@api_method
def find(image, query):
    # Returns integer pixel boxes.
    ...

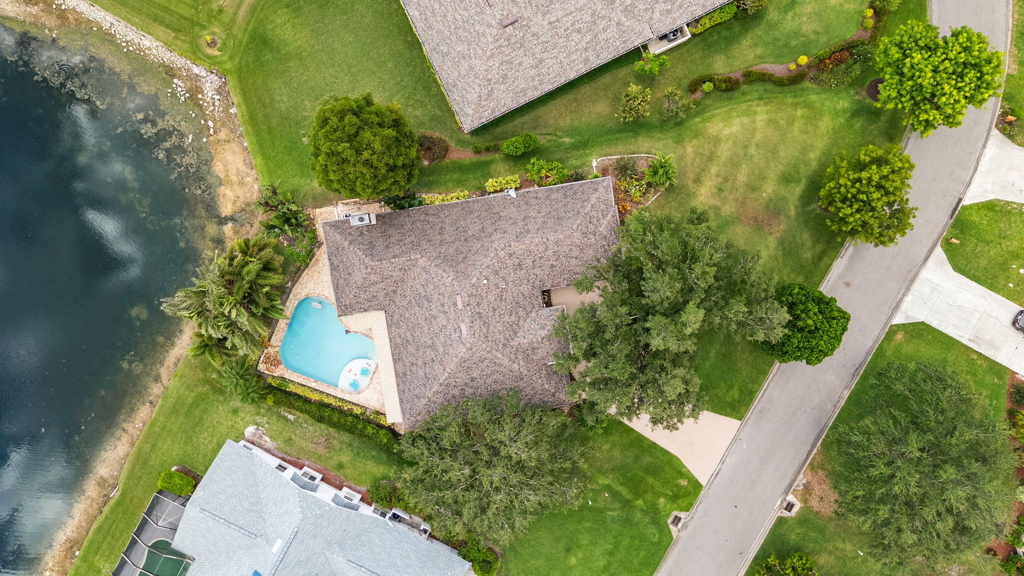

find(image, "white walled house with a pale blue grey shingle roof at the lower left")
[167,437,473,576]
